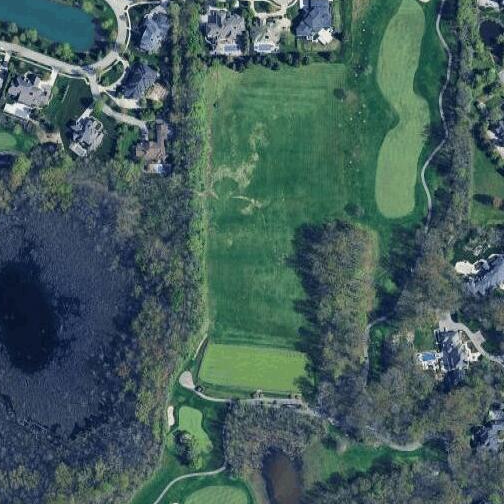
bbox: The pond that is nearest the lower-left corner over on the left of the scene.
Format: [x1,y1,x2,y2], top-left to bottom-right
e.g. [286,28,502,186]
[0,259,61,376]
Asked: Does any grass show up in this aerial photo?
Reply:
Yes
